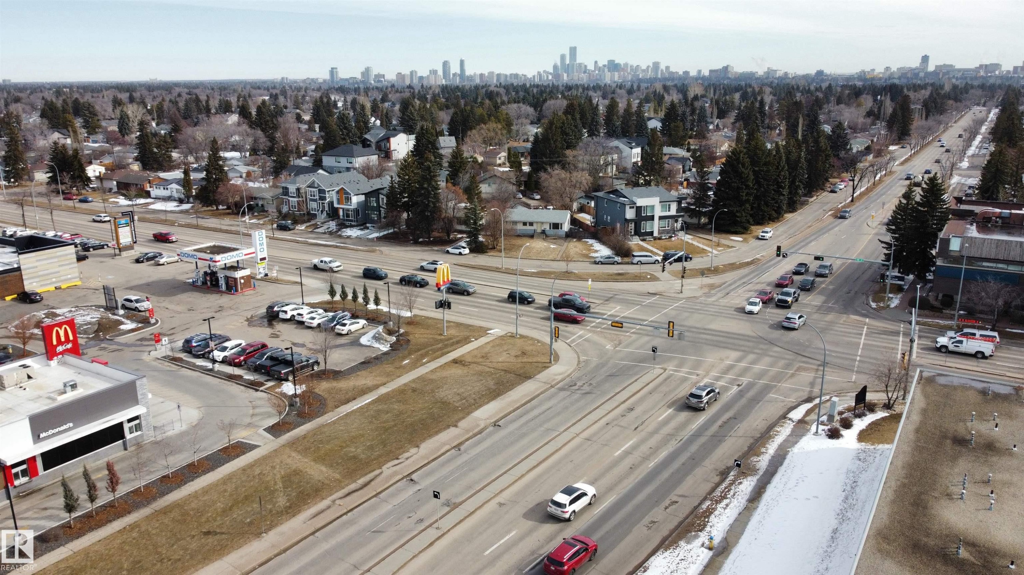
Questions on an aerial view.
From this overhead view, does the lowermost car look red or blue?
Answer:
red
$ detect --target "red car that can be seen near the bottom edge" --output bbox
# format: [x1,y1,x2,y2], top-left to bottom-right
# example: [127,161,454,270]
[541,538,597,575]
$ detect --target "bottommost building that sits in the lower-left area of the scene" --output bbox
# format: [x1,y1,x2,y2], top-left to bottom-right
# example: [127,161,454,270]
[0,354,157,504]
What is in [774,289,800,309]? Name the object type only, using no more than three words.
vehicle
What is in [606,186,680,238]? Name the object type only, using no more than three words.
house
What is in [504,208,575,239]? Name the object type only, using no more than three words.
house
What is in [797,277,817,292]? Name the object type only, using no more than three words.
car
